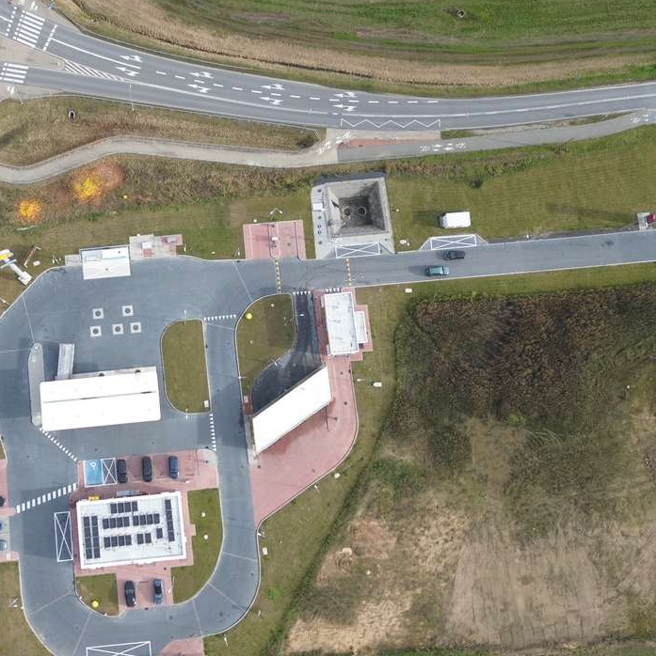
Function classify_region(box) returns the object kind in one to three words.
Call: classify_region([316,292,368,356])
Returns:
building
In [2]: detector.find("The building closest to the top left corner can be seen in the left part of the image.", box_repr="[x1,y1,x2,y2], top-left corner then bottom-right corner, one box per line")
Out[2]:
[79,243,132,282]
